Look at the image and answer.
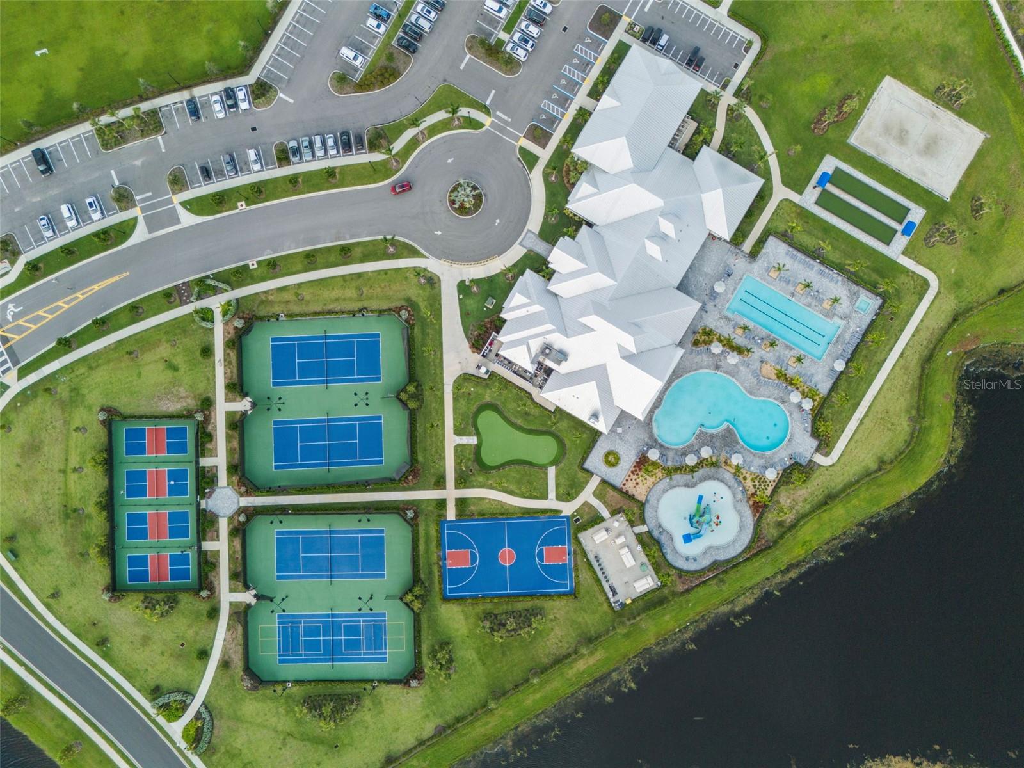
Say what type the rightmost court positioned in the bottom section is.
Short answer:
basketball court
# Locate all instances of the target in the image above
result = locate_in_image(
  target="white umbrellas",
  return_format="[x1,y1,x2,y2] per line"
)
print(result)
[727,353,738,364]
[713,280,725,292]
[700,446,712,457]
[765,468,776,479]
[710,342,722,353]
[731,453,742,464]
[801,398,812,410]
[832,359,844,370]
[789,391,801,403]
[648,448,659,460]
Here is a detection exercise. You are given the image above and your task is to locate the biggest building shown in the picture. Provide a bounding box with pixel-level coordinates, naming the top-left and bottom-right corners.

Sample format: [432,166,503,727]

[497,44,764,435]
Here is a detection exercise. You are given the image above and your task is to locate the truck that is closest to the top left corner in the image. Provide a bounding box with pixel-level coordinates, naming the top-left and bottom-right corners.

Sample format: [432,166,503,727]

[29,147,51,176]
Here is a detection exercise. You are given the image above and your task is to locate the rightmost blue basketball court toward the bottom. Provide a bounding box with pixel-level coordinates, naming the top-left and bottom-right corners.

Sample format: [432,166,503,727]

[441,515,574,599]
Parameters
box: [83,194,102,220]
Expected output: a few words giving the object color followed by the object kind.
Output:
white car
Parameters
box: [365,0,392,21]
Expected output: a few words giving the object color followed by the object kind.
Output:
blue truck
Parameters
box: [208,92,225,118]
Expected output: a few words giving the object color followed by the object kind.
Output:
white car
